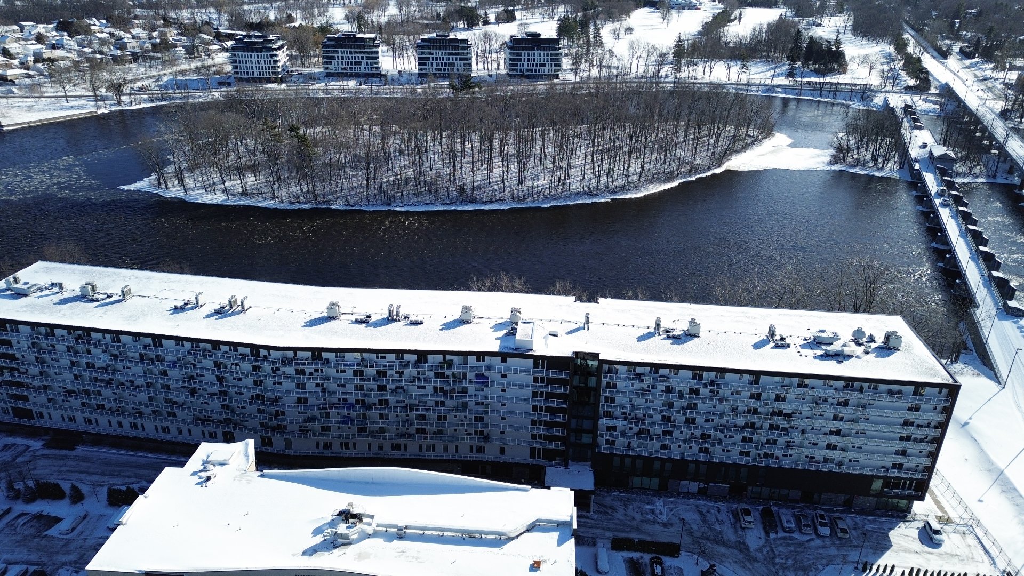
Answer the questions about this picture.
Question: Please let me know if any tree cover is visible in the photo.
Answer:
Yes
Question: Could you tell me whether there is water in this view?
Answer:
Yes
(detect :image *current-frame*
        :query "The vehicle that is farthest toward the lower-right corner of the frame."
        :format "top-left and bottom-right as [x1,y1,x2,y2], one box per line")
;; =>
[918,519,951,546]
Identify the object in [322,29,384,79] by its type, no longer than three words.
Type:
building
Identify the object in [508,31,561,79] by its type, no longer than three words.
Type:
building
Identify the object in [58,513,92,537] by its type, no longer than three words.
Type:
car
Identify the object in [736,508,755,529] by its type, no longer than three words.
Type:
car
